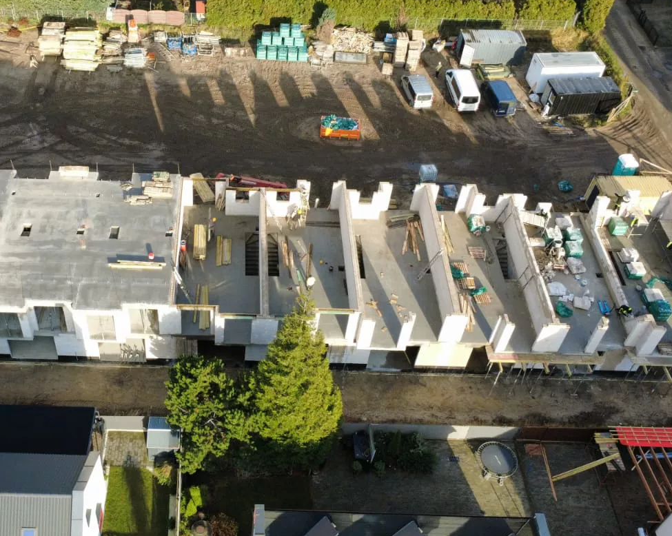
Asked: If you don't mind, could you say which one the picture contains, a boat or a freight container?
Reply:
freight container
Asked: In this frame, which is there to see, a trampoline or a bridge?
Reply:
trampoline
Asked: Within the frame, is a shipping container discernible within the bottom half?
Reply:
No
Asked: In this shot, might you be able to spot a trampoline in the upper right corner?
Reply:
No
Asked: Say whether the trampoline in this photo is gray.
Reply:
Yes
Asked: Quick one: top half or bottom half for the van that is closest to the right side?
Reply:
top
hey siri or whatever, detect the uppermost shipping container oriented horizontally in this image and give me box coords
[458,34,534,71]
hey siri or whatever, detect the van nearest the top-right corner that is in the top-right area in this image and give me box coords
[481,79,520,115]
